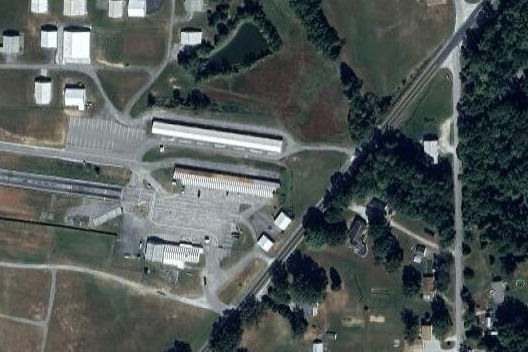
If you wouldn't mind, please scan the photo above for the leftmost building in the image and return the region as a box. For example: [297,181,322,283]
[0,36,23,54]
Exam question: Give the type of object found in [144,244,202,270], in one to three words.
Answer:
building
